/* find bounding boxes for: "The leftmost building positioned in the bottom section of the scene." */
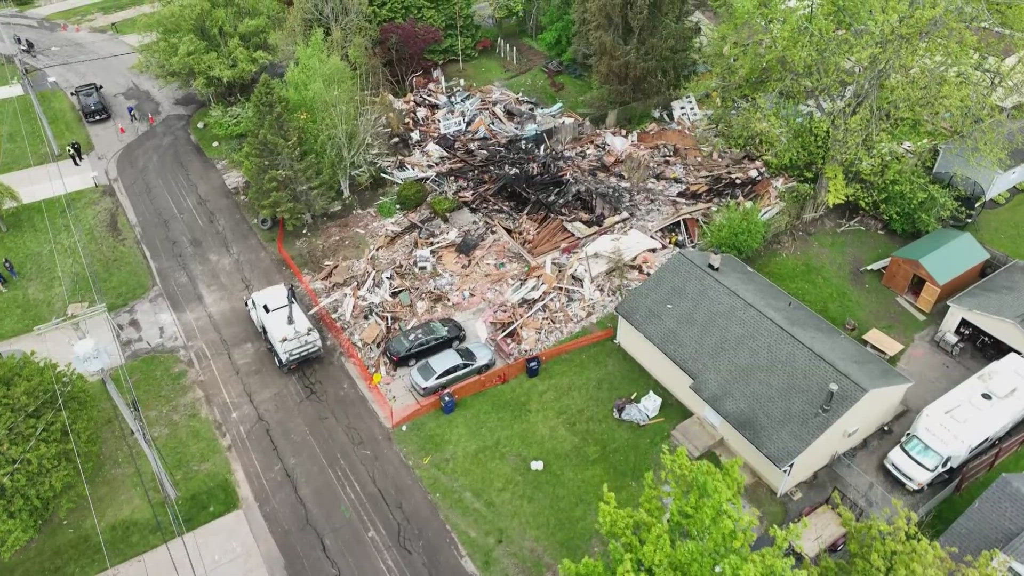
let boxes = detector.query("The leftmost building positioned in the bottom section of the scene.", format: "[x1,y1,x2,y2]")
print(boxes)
[609,248,920,498]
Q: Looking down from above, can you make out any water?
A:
No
